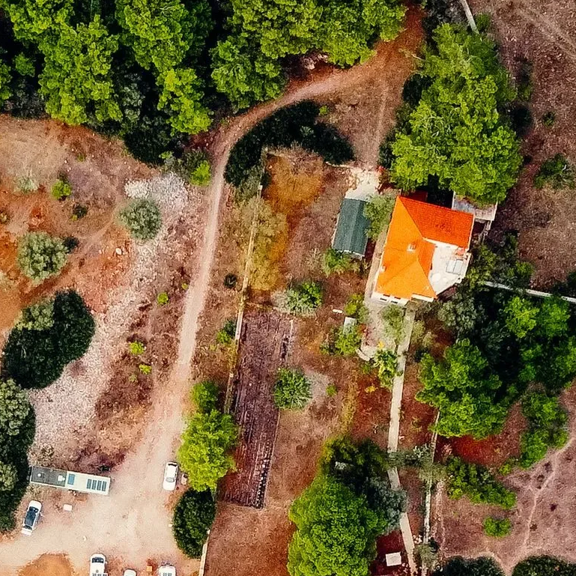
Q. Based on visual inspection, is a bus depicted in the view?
Yes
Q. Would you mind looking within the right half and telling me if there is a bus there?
No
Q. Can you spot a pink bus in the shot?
No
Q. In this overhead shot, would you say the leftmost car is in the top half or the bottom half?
bottom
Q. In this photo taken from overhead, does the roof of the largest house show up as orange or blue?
orange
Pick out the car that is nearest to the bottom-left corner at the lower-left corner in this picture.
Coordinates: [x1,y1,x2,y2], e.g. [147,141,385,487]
[20,500,41,535]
